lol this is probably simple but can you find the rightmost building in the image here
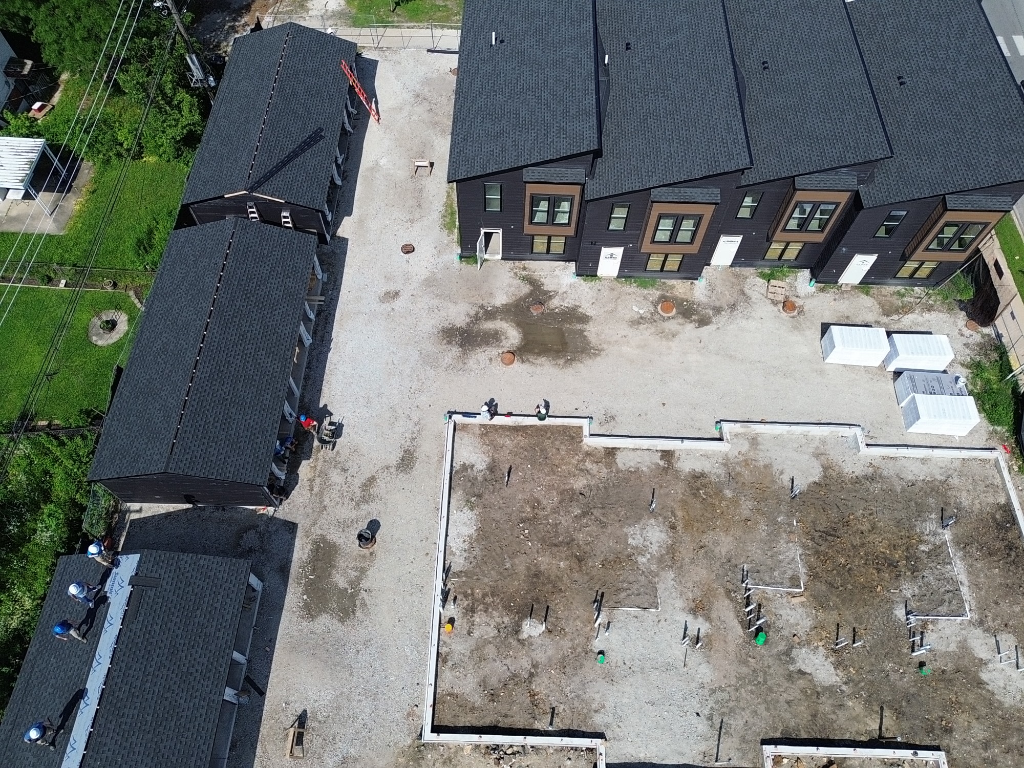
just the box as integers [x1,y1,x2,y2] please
[814,0,1024,287]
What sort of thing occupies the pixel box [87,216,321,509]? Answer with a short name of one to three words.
building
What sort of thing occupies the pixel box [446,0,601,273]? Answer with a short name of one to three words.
house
